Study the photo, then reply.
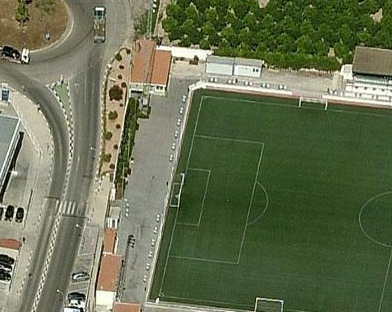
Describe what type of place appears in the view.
sports ground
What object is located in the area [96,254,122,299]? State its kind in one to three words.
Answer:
shed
